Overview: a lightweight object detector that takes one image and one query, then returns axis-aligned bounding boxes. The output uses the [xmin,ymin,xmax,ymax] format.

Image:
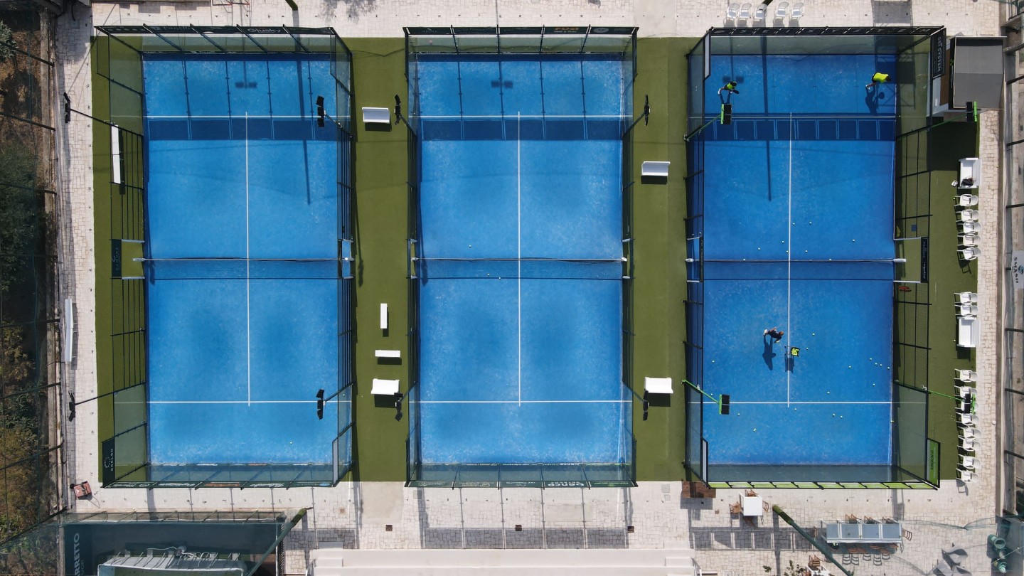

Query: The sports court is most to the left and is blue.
[142,52,353,465]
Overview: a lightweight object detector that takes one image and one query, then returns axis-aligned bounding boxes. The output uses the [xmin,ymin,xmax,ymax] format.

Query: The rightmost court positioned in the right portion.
[684,53,895,465]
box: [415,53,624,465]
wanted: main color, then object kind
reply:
blue sports court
